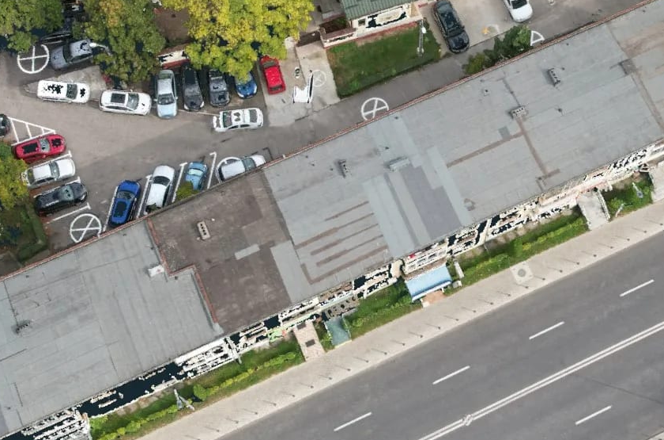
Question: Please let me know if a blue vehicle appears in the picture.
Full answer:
Yes, the frame does contain a blue vehicle.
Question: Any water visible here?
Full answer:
No, water can't be seen anywhere here.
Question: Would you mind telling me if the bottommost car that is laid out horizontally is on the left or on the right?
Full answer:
The bottommost car that is laid out horizontally sits on the left side.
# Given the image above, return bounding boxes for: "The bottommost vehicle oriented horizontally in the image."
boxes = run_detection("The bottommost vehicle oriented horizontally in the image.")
[32,182,89,216]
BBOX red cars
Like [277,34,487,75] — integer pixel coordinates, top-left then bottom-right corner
[11,132,67,164]
[261,56,284,96]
